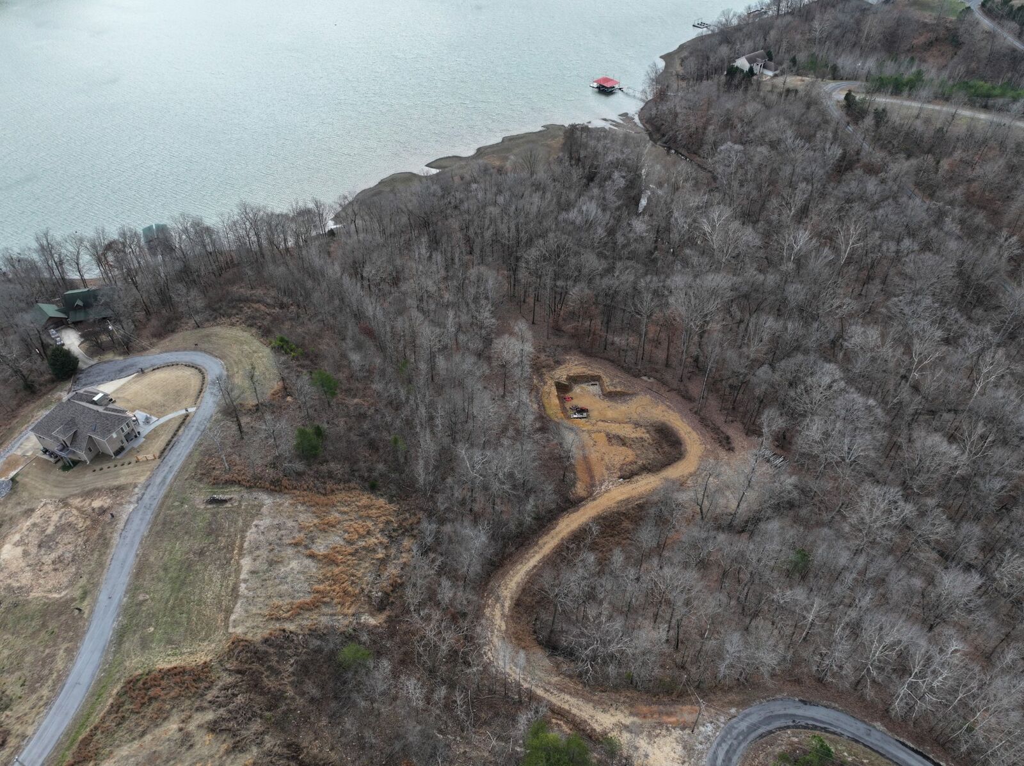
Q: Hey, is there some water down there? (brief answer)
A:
Yes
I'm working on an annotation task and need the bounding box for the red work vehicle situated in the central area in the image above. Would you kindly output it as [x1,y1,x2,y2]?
[567,401,593,414]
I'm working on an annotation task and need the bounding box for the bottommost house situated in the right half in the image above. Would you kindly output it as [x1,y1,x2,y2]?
[730,49,784,75]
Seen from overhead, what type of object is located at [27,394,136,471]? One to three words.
house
